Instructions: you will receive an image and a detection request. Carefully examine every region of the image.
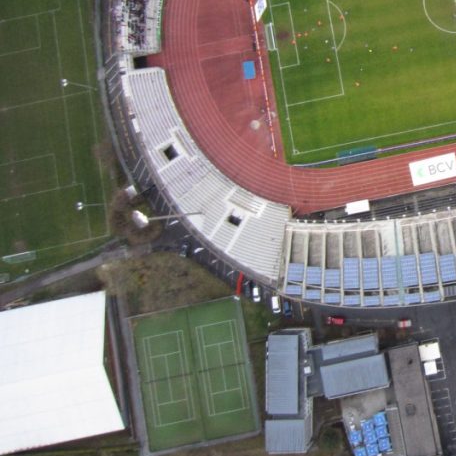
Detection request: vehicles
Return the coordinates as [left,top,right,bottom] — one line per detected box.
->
[396,319,413,328]
[325,316,344,326]
[282,300,292,317]
[245,282,253,299]
[270,295,280,314]
[253,286,262,303]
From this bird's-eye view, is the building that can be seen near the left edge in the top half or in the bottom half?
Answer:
bottom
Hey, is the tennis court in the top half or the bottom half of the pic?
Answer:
bottom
